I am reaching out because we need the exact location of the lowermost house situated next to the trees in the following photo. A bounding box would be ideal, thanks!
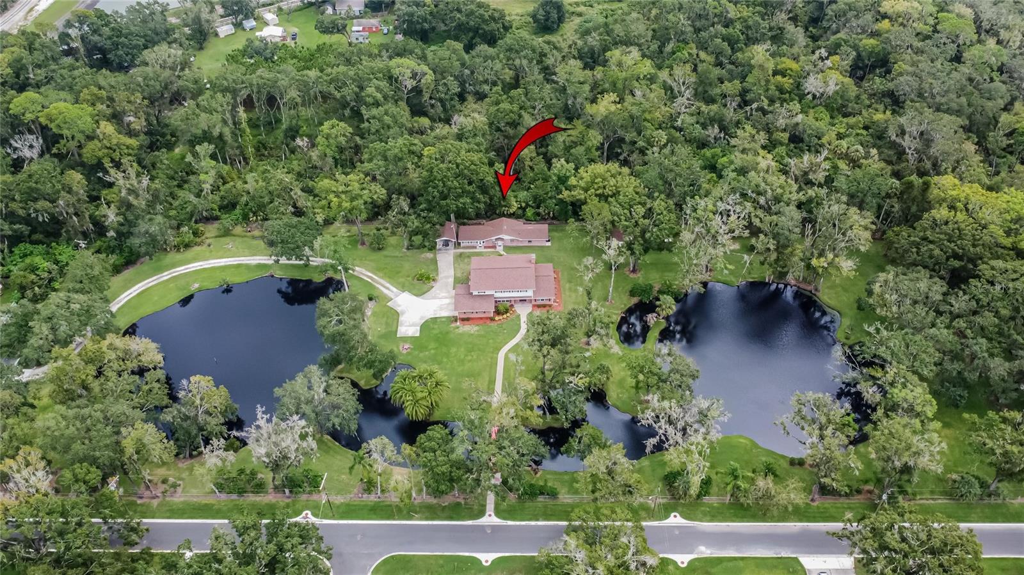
[455,255,555,318]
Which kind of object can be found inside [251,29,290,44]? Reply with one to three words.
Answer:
house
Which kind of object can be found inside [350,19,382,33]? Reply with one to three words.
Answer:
house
